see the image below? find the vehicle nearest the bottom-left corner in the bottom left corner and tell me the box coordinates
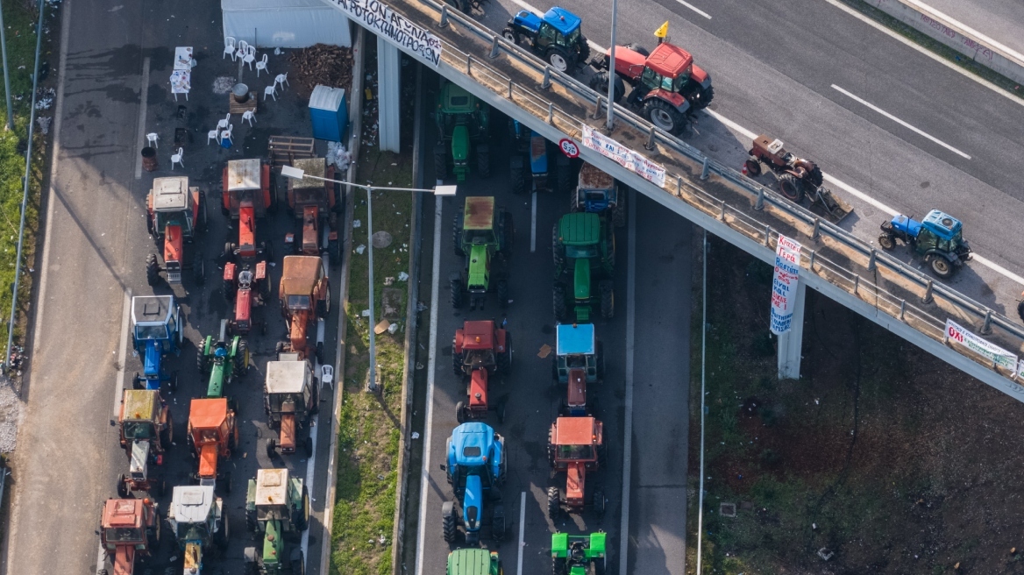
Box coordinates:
[92,498,159,575]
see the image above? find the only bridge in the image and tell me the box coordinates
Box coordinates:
[365,0,1024,403]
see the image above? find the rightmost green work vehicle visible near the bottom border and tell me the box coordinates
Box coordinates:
[549,535,609,575]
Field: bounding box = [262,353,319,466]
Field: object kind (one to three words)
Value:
work vehicle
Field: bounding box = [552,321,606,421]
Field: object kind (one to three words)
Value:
work vehicle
